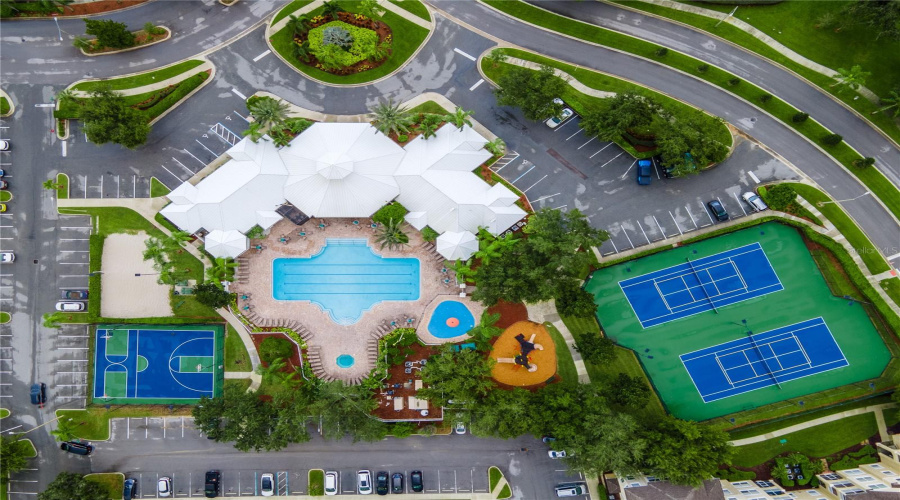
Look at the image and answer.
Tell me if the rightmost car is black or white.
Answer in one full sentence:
From above, the rightmost car appears white.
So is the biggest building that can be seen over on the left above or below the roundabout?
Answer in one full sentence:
The biggest building that can be seen over on the left appears below the roundabout in the picture.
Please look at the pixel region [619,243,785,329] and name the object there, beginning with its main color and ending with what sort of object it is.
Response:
blue tennis court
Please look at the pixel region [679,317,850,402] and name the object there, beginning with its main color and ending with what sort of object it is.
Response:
blue tennis court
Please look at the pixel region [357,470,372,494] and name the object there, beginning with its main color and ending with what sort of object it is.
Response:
white car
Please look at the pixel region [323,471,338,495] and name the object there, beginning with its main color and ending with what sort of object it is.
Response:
white car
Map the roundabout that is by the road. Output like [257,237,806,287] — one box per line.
[262,0,438,87]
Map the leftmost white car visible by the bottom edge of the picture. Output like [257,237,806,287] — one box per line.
[157,475,172,496]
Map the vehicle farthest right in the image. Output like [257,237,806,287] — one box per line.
[743,189,764,214]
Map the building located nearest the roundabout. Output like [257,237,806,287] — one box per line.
[159,122,527,237]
